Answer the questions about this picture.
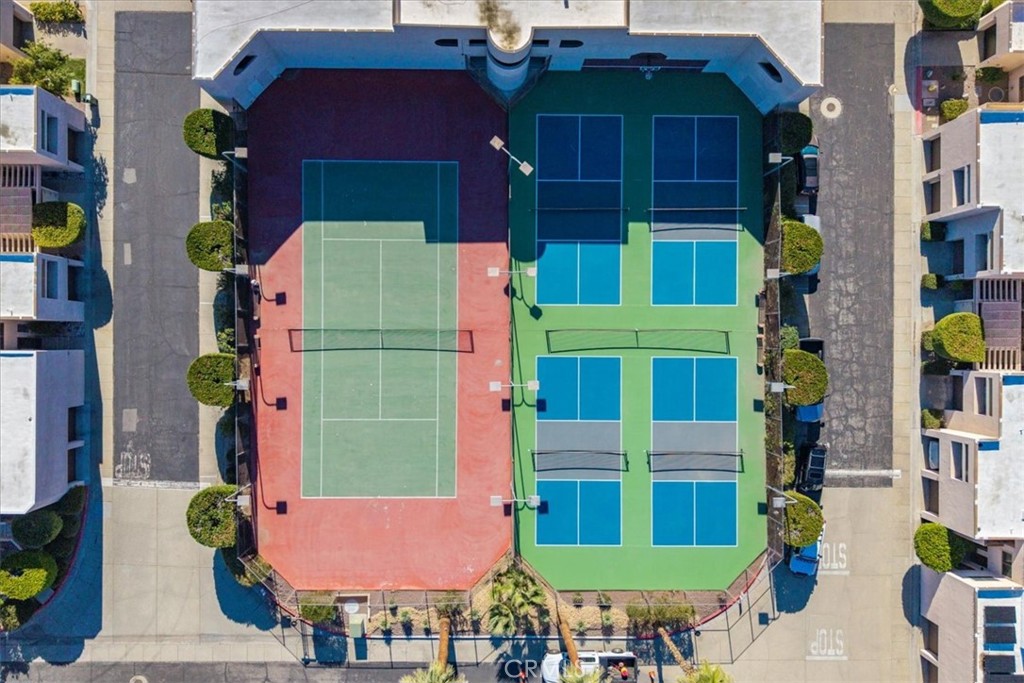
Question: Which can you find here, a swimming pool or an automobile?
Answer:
automobile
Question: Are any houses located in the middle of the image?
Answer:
No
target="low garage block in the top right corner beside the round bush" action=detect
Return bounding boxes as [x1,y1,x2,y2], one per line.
[977,5,1024,103]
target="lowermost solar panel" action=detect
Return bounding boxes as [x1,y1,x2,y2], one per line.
[984,656,1017,671]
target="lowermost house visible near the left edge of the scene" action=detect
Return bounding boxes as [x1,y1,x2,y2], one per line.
[0,350,84,514]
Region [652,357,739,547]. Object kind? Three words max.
sports court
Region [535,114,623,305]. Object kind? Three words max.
sports court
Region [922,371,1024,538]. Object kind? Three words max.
house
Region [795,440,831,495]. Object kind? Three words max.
car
